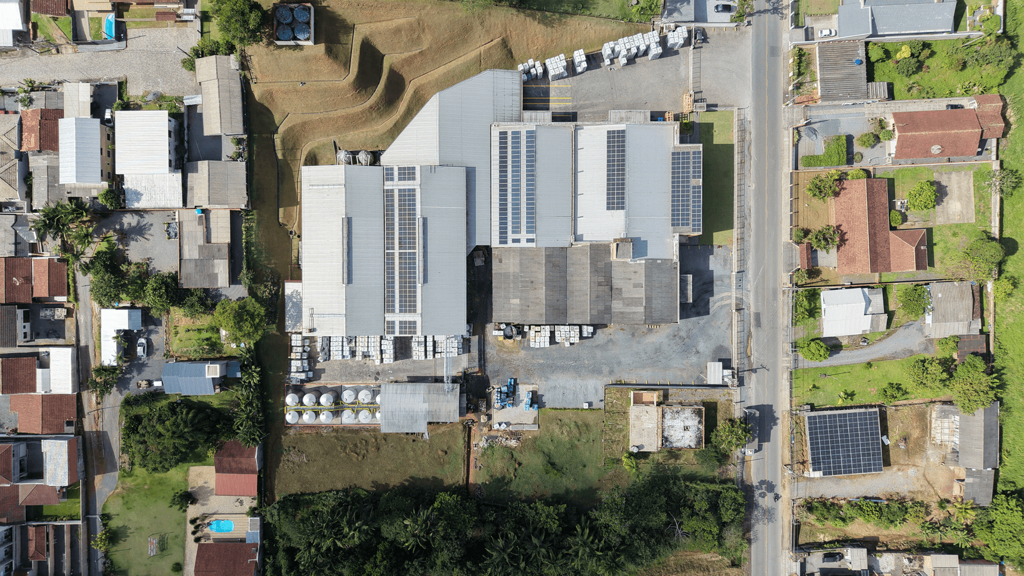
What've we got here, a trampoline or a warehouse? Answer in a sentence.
There is a warehouse in the scene.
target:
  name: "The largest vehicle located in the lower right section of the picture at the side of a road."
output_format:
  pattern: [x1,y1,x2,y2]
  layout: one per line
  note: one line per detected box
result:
[741,406,757,454]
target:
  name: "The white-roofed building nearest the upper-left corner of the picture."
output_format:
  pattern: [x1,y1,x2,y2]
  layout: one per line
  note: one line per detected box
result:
[0,2,37,51]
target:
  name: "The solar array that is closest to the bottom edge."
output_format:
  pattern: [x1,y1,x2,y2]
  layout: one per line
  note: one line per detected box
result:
[806,410,883,476]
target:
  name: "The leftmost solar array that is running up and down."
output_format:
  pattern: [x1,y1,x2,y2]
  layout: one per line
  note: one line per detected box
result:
[386,166,417,335]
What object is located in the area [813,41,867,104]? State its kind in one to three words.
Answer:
barn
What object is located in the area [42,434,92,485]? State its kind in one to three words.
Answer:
house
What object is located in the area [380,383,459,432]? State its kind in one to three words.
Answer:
shed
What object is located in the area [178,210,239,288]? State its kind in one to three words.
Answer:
building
